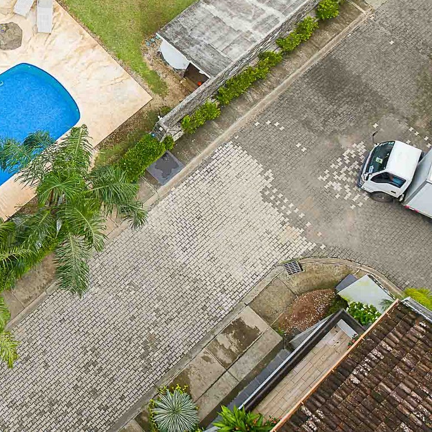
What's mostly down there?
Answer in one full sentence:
For the most part, this view shows paved ground.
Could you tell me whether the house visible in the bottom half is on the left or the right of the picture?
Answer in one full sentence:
The house visible in the bottom half is on the right side of the image.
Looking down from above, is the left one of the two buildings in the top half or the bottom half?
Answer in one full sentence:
Seen from above, the left one of the two buildings lies in the top half of the view.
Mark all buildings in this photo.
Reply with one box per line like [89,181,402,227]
[157,0,302,101]
[210,290,432,432]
